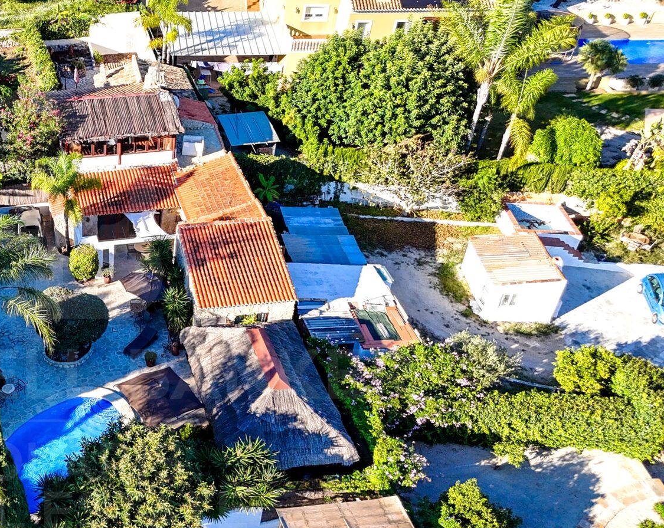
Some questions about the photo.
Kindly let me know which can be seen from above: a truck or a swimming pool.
swimming pool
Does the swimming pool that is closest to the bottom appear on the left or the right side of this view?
left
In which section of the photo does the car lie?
right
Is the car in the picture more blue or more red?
blue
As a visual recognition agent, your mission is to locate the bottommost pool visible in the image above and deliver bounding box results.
[6,387,131,525]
